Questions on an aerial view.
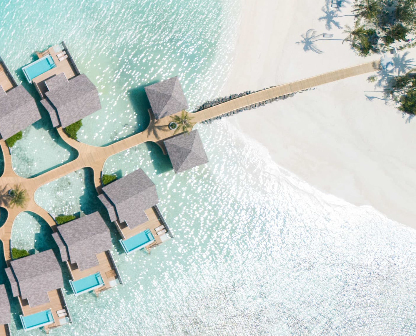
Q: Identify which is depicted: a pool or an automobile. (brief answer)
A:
pool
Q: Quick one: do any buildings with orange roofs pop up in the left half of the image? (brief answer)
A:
No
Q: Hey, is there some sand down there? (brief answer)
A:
Yes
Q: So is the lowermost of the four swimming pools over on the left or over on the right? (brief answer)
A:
left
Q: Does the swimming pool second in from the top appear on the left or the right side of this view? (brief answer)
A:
left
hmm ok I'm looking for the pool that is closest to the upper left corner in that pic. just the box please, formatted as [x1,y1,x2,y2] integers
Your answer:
[21,55,55,85]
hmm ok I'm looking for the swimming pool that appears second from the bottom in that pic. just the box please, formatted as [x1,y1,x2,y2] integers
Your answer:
[68,271,104,295]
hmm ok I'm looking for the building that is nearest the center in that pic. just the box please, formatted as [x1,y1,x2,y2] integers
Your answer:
[163,129,209,174]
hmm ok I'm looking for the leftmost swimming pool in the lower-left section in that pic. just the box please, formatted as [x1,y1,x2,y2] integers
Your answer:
[19,308,54,330]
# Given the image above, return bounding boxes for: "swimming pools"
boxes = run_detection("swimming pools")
[19,308,54,330]
[68,271,104,295]
[117,228,153,254]
[21,55,55,85]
